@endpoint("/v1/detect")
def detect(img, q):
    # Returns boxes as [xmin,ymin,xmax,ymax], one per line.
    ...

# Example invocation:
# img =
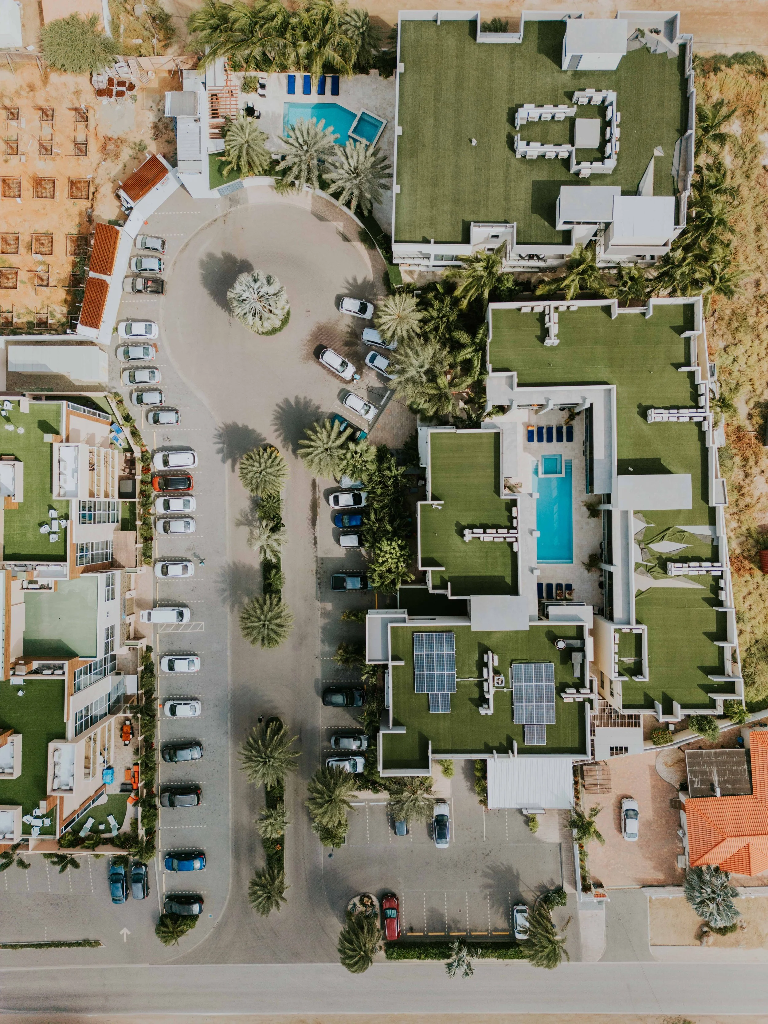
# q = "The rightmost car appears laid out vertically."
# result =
[620,797,641,841]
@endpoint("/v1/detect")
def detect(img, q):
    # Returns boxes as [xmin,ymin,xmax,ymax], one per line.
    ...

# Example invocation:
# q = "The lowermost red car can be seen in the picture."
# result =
[380,894,401,942]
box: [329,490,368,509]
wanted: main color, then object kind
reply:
white car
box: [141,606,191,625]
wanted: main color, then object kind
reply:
white vehicle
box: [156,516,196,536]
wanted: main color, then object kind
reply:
white car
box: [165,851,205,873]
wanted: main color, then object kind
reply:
blue car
